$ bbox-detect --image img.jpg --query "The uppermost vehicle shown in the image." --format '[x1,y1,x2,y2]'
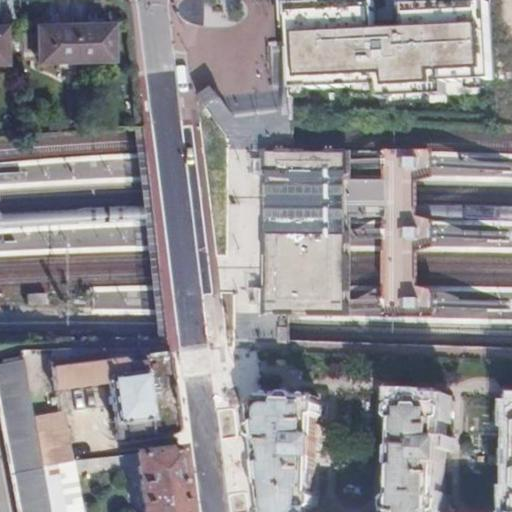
[175,65,188,93]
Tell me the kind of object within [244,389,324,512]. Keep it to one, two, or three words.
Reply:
house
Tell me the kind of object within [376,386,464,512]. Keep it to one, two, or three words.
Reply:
house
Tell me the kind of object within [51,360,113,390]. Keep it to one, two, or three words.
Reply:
building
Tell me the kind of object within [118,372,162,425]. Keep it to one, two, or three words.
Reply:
shed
